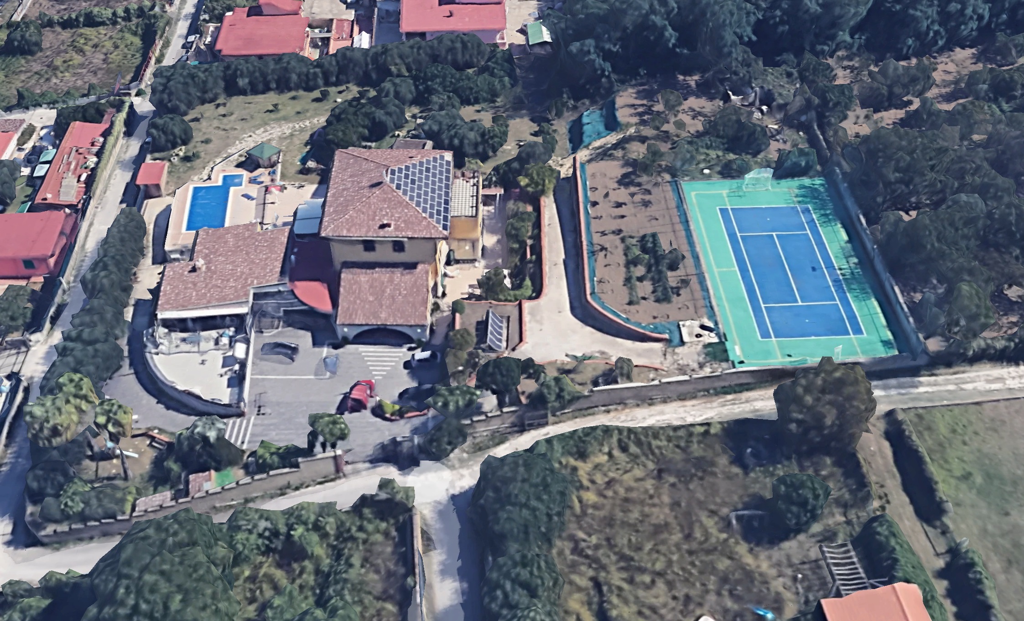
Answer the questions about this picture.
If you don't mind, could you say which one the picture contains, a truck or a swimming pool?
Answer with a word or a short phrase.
swimming pool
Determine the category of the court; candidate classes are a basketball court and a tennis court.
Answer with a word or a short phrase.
tennis court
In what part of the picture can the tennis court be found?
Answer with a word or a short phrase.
right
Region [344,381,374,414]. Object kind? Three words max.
car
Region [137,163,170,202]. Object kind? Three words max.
shed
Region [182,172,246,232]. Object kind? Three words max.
swimming pool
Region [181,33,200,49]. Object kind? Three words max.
car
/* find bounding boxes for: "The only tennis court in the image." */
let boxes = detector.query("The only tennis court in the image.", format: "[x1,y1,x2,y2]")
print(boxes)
[681,177,905,368]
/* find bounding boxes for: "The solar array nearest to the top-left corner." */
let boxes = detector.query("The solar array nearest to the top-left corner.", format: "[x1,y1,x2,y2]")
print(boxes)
[391,153,452,229]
